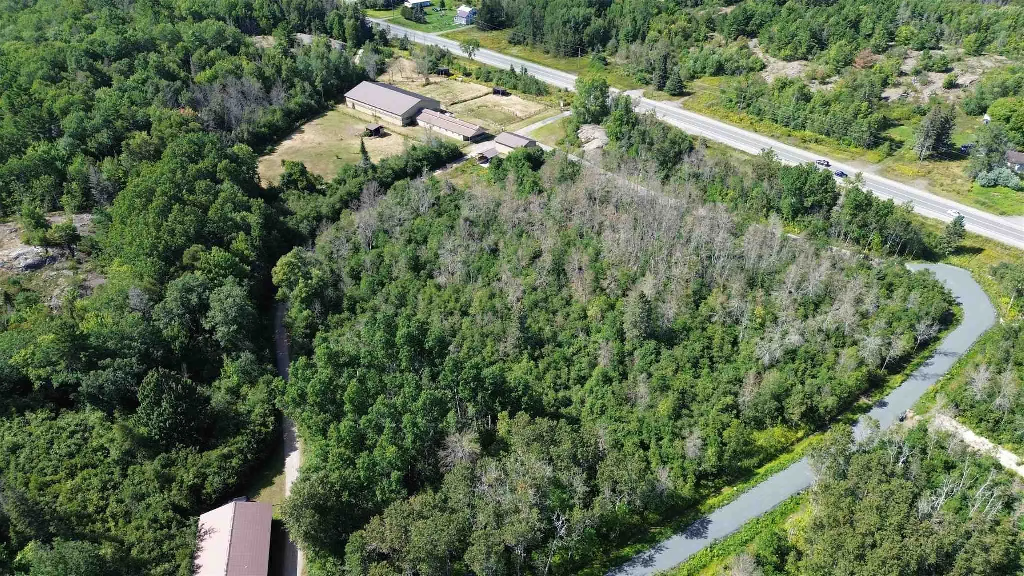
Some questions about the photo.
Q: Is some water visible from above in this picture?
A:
No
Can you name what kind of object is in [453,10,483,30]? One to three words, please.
house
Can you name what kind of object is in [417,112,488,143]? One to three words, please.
building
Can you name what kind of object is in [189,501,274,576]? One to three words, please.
barn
